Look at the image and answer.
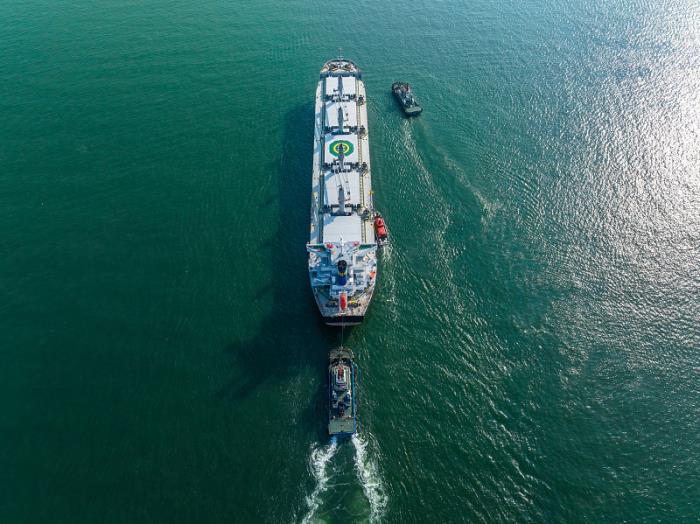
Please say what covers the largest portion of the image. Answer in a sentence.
Most of the picture is covered by water.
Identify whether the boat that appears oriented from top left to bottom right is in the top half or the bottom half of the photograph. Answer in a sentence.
It is in the top half that the boat that appears oriented from top left to bottom right appears.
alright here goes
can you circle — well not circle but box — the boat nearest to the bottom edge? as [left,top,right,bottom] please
[327,346,358,436]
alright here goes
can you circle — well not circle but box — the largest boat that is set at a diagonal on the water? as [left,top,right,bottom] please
[391,79,422,115]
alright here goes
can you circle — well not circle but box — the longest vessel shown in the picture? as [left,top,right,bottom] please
[306,46,379,326]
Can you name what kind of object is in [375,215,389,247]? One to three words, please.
boat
